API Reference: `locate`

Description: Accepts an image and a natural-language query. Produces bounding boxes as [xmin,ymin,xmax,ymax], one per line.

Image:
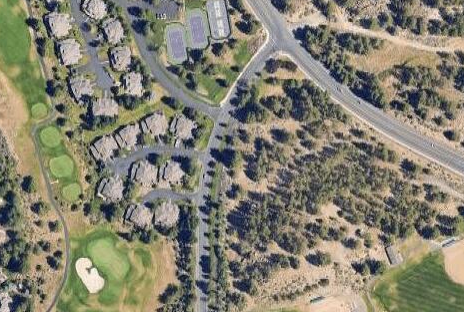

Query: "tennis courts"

[165,22,190,66]
[186,7,211,50]
[205,0,232,41]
